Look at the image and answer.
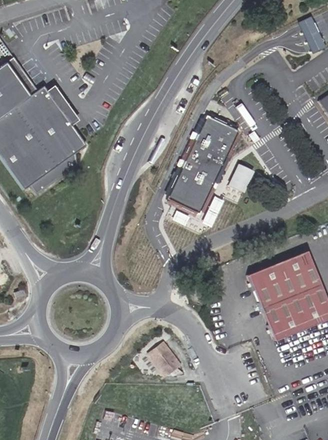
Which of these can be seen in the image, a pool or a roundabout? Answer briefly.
roundabout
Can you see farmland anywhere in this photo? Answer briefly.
No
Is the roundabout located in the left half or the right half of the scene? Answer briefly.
left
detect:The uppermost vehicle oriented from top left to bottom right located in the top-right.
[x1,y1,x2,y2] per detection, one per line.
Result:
[234,102,258,128]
